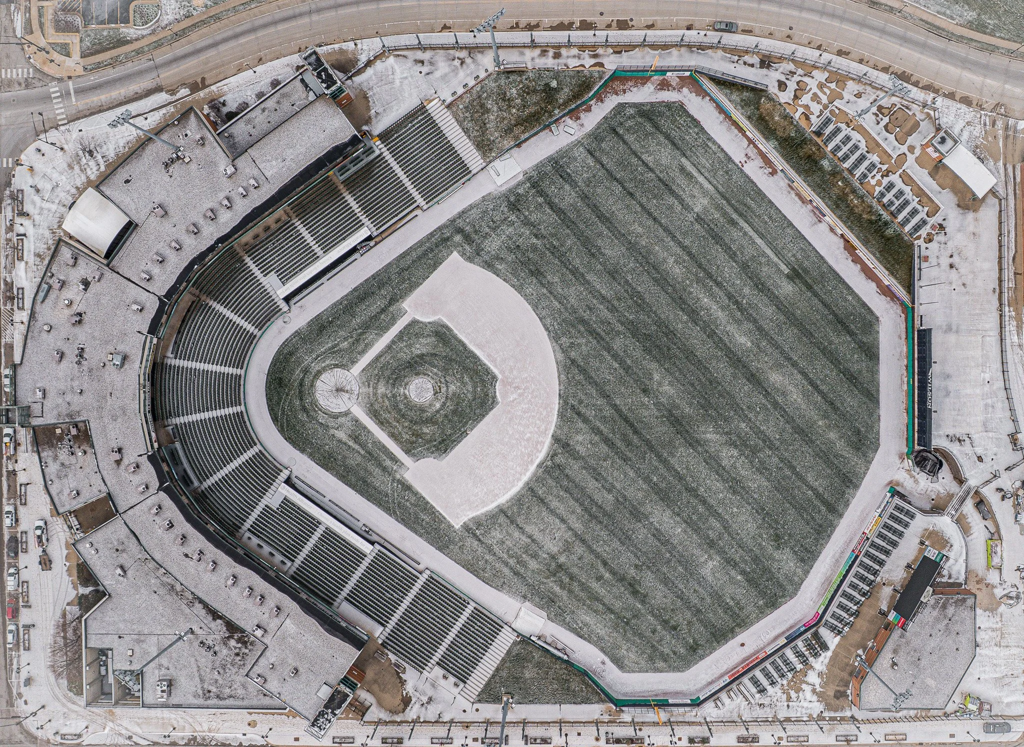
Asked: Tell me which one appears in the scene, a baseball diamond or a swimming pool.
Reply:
baseball diamond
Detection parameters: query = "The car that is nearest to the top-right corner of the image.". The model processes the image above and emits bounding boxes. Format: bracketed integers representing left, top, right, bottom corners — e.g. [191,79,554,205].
[714,18,738,32]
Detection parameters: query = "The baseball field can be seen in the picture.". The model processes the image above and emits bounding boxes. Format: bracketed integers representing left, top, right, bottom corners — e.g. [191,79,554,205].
[245,76,907,699]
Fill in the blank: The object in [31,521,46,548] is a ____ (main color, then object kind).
white vehicle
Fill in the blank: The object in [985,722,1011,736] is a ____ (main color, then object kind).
gray car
